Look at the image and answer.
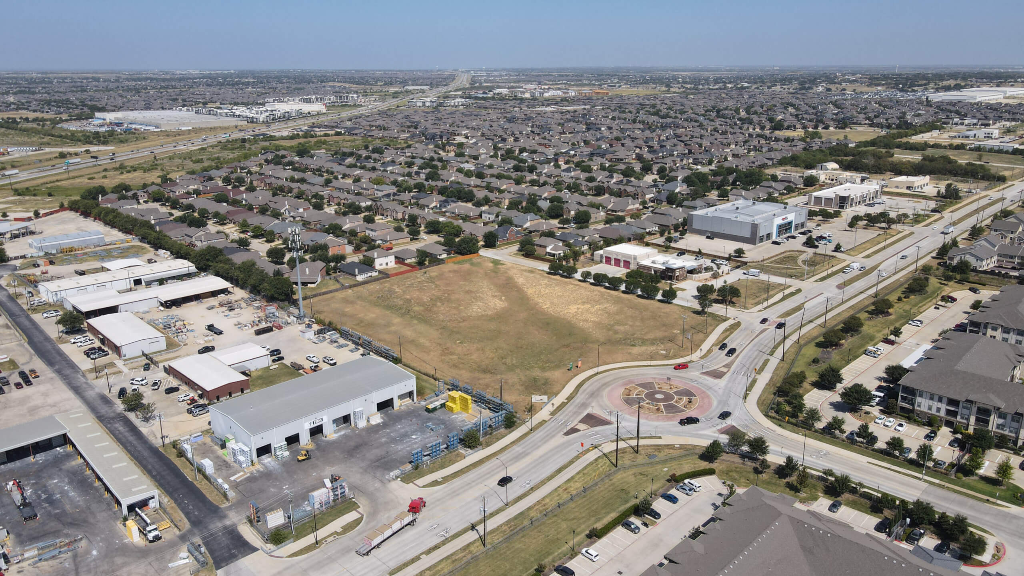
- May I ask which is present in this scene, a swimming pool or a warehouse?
warehouse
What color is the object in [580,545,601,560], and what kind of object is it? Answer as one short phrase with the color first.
white car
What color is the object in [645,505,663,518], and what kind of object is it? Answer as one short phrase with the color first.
black vehicle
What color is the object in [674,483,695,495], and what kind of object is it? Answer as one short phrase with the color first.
gray vehicle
